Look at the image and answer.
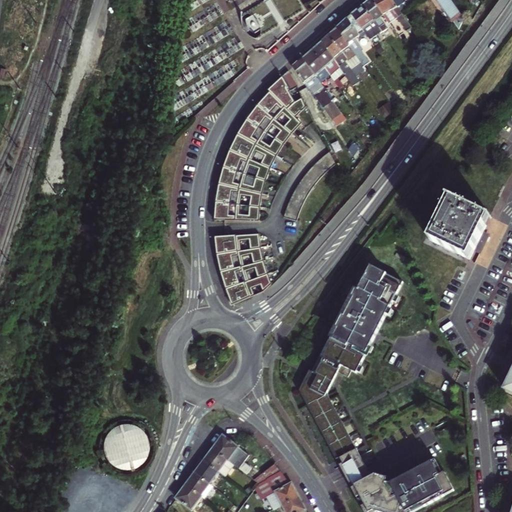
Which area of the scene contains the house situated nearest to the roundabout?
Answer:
center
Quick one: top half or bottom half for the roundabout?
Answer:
bottom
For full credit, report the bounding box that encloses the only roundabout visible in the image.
[162,306,262,406]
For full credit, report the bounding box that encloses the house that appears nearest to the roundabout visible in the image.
[226,283,250,304]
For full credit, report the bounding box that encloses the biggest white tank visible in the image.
[104,424,152,470]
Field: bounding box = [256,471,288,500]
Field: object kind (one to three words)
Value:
building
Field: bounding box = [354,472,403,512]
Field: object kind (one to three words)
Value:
building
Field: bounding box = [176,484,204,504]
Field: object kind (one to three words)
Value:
house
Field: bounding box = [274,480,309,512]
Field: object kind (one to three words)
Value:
house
